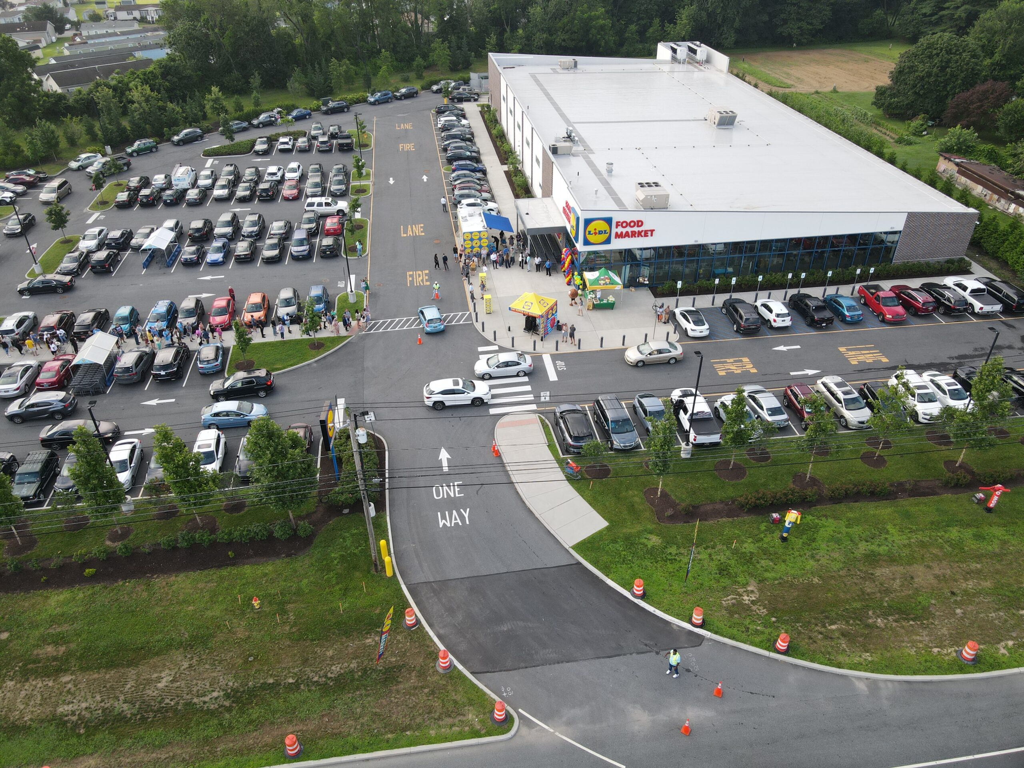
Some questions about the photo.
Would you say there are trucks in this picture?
Yes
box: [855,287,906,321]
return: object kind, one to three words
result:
truck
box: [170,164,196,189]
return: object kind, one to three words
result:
vehicle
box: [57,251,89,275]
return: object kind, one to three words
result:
car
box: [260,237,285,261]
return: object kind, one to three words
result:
car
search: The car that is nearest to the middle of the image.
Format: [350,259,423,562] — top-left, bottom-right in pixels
[473,351,533,380]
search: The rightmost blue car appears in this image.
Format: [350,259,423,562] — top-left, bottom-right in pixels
[823,297,866,325]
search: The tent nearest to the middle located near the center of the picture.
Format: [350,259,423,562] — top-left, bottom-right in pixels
[509,291,557,337]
